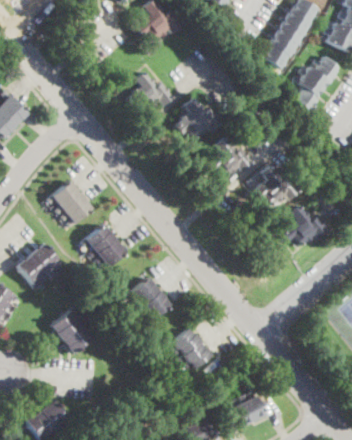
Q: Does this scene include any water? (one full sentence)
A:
No, water can't be seen anywhere here.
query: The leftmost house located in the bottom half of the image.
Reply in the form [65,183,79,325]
[0,284,21,328]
